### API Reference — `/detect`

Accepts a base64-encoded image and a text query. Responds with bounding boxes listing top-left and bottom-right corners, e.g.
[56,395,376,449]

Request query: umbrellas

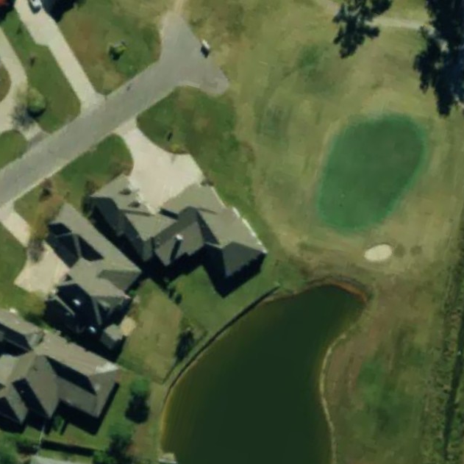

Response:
[121,317,136,333]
